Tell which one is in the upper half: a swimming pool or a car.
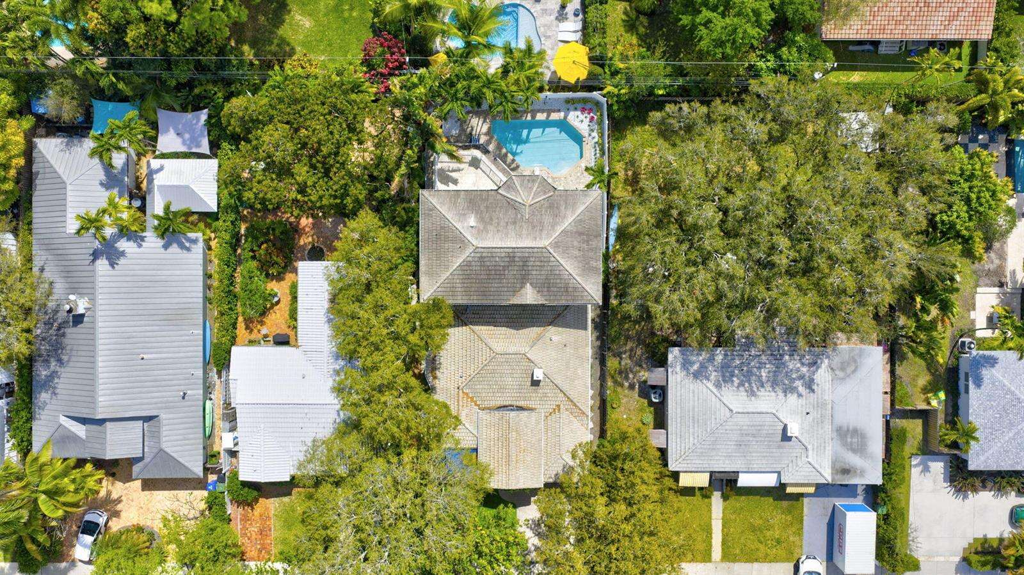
swimming pool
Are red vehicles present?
No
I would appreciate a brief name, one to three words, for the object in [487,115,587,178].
swimming pool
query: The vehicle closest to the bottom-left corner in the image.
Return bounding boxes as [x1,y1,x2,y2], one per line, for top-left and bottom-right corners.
[74,507,113,564]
